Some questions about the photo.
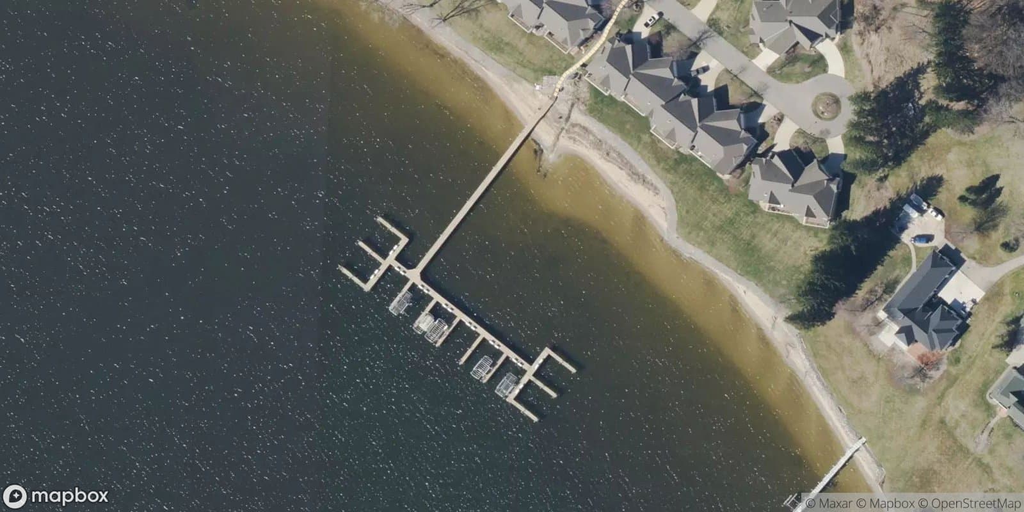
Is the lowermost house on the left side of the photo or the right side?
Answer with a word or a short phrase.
right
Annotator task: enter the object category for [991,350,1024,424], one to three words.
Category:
house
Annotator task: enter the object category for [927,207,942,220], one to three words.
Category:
vehicle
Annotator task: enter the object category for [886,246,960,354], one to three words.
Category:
house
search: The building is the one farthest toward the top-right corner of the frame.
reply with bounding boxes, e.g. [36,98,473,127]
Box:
[749,0,838,56]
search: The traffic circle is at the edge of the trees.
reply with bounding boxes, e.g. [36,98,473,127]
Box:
[811,91,841,121]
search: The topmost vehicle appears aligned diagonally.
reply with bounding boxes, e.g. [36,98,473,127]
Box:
[642,14,659,29]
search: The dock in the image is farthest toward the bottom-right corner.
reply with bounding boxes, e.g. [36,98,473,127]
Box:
[789,438,866,512]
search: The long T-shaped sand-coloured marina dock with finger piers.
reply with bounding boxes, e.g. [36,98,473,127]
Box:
[338,96,578,422]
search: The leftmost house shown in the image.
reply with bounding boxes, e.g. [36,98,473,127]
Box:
[505,0,598,53]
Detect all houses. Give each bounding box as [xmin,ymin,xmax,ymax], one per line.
[886,246,960,354]
[585,37,754,176]
[505,0,598,53]
[749,0,838,56]
[746,149,839,228]
[991,350,1024,424]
